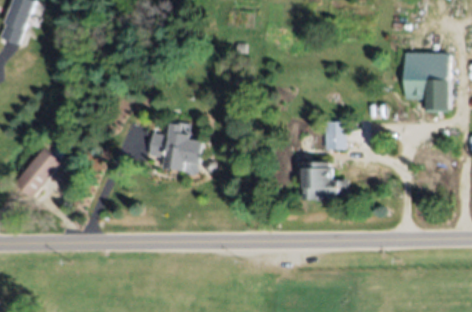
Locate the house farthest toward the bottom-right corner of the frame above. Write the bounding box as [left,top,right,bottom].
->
[302,164,346,200]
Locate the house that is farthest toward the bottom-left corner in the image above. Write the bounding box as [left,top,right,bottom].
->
[18,150,61,198]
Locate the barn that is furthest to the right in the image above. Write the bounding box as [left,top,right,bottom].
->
[404,54,452,113]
